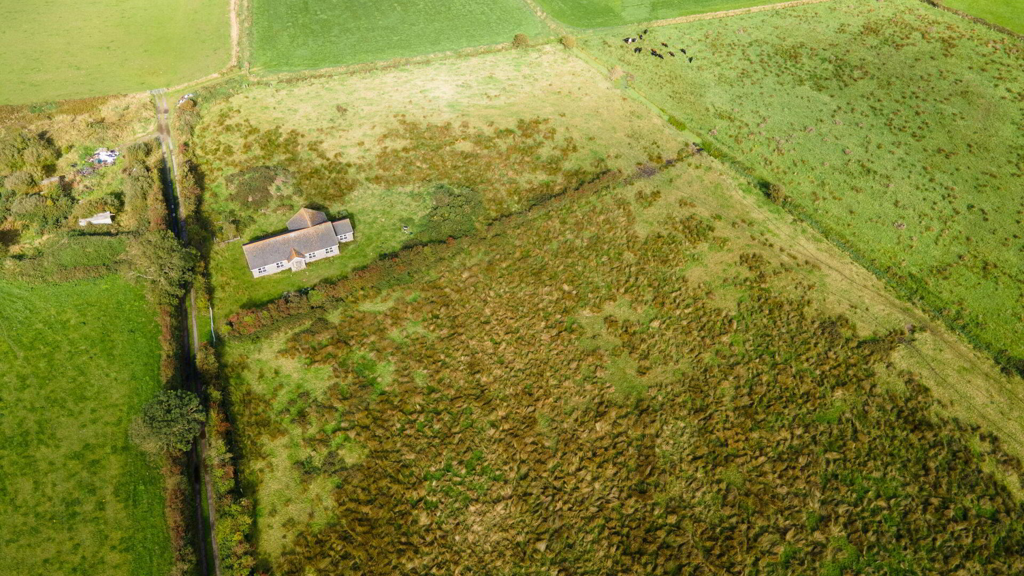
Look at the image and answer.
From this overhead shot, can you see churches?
No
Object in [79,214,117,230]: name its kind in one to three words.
shed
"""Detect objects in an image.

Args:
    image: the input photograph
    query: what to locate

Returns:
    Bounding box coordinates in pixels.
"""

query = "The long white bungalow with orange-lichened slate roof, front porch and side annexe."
[243,207,354,278]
